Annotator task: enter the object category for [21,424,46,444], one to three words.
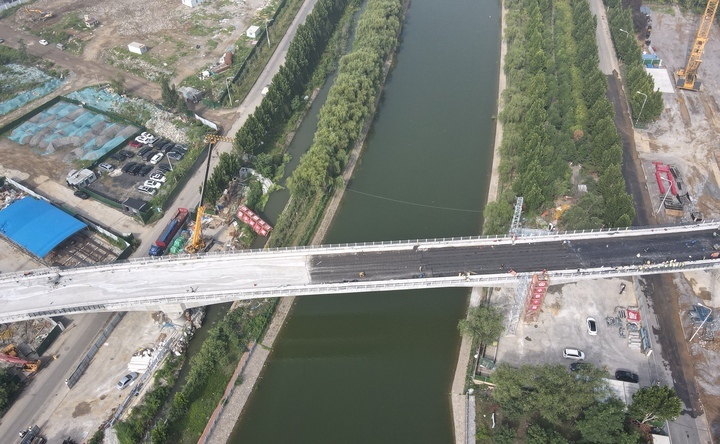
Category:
vehicle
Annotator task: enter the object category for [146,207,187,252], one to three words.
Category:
truck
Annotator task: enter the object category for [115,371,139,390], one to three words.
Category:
car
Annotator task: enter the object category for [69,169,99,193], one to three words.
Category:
building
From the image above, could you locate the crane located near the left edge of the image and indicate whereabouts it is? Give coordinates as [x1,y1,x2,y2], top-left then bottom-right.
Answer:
[0,353,45,379]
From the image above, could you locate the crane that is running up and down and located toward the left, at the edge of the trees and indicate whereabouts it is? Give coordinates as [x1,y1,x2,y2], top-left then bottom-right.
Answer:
[175,133,242,253]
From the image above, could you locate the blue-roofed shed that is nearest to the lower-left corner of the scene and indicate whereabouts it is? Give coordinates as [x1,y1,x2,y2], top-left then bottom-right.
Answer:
[0,196,93,269]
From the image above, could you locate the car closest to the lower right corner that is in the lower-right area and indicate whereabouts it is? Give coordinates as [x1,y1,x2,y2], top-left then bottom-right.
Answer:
[615,368,639,383]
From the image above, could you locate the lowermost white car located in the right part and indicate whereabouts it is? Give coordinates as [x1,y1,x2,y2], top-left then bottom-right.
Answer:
[562,348,586,361]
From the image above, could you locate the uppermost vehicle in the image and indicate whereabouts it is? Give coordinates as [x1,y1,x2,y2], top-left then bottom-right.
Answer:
[29,4,53,20]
